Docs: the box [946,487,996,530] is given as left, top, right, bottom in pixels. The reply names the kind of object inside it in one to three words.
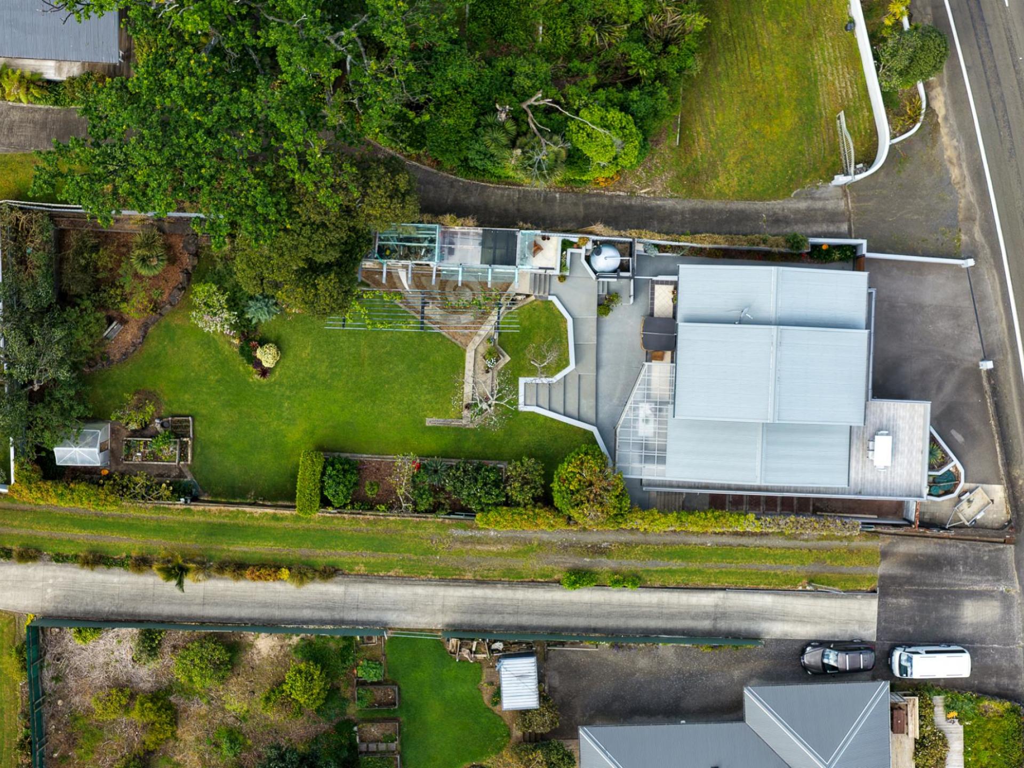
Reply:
trailer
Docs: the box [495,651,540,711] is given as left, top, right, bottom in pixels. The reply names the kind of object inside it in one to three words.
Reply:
shed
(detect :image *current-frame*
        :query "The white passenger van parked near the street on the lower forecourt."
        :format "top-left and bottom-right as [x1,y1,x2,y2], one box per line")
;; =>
[893,646,976,686]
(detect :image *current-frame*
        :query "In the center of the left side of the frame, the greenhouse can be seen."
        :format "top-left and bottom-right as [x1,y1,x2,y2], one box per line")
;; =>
[53,428,111,466]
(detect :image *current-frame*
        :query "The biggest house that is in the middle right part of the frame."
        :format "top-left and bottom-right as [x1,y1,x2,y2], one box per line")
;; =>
[663,263,872,489]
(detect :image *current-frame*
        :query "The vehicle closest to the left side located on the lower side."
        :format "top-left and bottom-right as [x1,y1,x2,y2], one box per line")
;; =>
[801,643,877,680]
